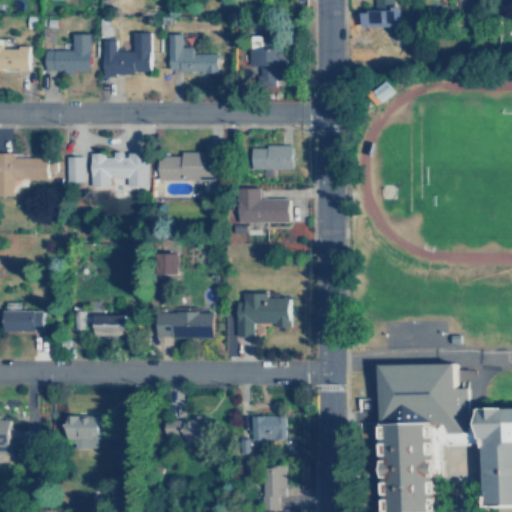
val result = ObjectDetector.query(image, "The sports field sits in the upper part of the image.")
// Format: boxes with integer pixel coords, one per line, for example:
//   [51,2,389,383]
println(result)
[374,92,512,252]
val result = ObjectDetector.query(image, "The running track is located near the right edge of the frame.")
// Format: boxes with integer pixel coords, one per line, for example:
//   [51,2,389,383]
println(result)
[362,82,512,264]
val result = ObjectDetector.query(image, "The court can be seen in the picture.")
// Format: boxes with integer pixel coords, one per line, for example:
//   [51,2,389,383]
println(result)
[388,322,448,348]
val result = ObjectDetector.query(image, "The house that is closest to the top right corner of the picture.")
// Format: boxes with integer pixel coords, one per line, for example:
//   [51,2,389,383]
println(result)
[358,0,402,28]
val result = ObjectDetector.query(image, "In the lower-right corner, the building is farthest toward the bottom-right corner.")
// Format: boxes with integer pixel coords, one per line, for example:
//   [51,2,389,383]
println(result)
[470,408,512,508]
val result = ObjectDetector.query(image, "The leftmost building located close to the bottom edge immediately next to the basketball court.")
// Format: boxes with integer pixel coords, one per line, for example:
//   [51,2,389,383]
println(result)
[374,364,471,512]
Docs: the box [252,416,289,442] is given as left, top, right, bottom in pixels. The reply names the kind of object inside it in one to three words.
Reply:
house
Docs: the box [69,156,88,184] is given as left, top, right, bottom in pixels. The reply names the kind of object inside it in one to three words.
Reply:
building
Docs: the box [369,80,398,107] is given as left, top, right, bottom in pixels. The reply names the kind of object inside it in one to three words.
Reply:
shed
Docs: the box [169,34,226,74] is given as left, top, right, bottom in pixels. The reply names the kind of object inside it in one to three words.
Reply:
house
